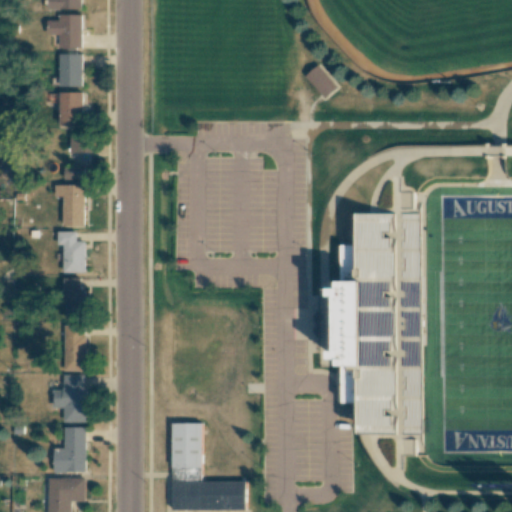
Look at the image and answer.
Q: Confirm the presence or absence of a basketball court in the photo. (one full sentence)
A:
No, I can't see a single basketball court in this photo.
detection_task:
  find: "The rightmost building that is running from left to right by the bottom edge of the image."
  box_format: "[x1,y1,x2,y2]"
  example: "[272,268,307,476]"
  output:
[172,481,250,510]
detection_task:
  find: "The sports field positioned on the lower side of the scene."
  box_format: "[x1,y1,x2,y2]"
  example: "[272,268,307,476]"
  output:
[426,187,512,468]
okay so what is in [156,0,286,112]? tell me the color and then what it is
green sports field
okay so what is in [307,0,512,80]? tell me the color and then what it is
green baseball field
